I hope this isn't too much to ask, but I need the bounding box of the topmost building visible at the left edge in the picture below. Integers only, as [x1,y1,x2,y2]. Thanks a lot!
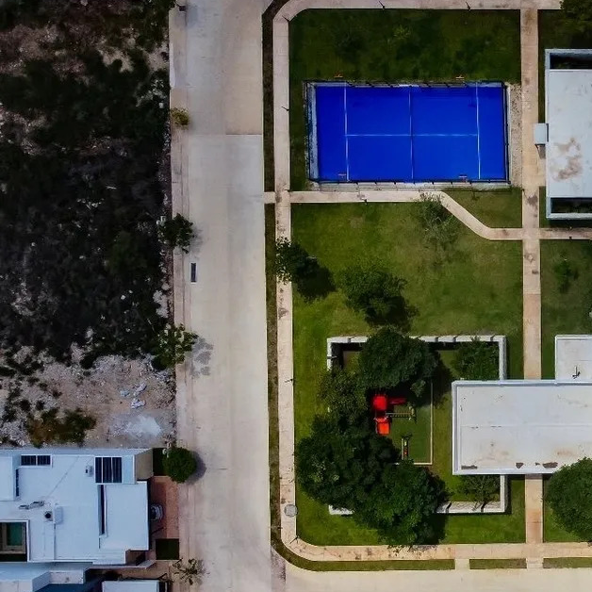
[0,448,166,564]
